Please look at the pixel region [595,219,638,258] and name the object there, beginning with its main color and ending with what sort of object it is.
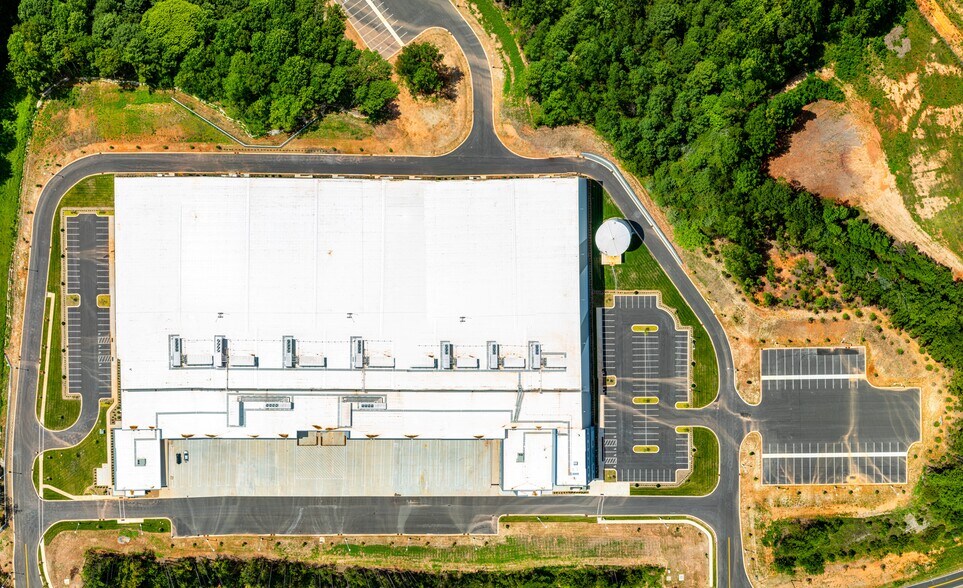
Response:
white water tank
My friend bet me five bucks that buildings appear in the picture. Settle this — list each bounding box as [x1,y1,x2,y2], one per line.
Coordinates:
[115,177,590,440]
[601,255,624,265]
